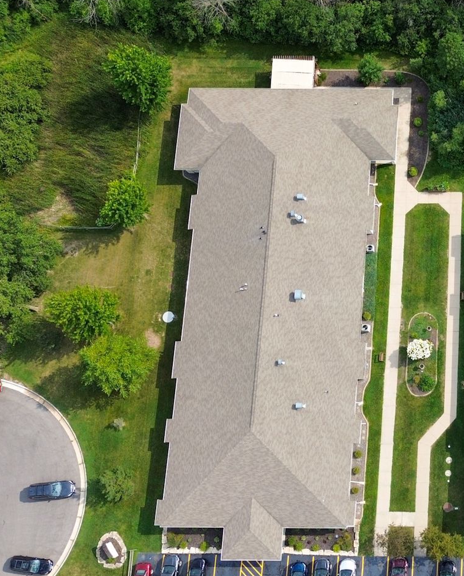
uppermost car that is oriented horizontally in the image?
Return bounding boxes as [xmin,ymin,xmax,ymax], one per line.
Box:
[27,480,77,501]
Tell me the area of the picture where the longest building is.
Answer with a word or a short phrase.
center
